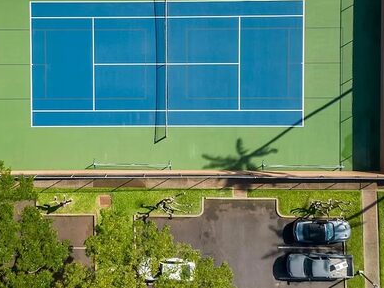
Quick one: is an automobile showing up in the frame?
Yes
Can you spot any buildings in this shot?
No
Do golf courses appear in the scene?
No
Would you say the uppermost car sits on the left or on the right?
right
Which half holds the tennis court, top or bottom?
top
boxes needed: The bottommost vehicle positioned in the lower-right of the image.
[286,251,355,281]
